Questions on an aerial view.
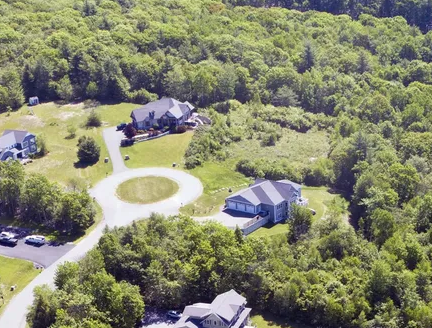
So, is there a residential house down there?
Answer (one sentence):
Yes, the frame does contain a residential house.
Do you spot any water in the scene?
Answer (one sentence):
No, the scene doesn't show any water.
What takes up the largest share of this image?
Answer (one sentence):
What you mostly see from above here is trees.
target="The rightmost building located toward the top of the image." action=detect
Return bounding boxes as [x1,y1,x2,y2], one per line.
[128,98,195,130]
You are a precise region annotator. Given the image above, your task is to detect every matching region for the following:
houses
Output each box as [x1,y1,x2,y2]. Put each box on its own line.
[173,289,261,328]
[225,178,314,220]
[128,98,195,130]
[0,127,39,161]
